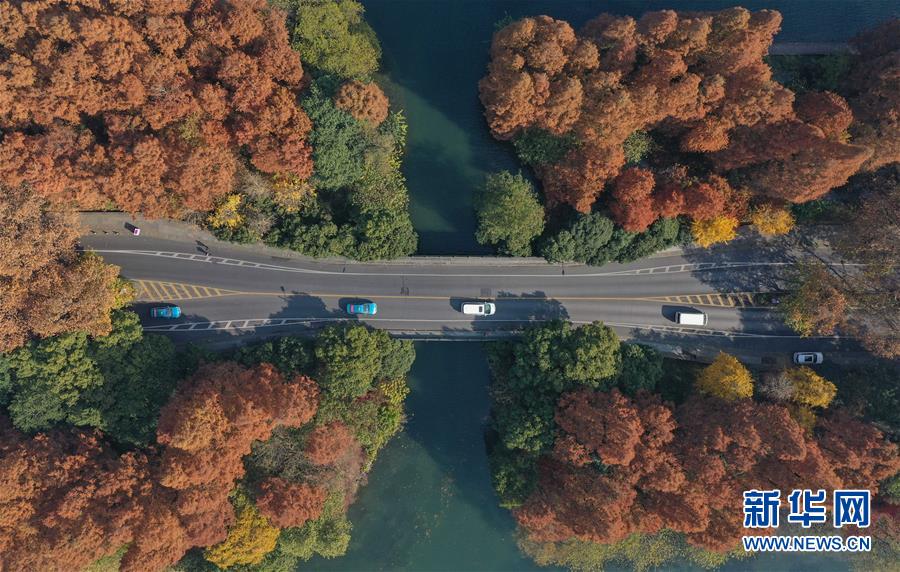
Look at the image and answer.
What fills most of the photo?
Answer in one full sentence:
The scene is dominated by trees.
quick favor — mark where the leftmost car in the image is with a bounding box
[149,306,181,319]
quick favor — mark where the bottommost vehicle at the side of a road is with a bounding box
[795,351,825,365]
